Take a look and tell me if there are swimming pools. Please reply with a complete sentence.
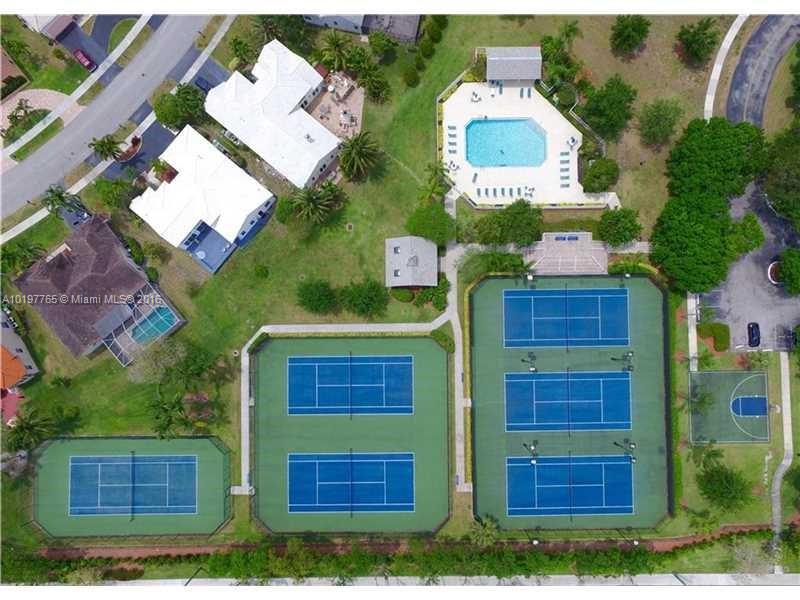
Yes, there's a swimming pool here.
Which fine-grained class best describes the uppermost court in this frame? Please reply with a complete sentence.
The uppermost court appears to be a tennis court.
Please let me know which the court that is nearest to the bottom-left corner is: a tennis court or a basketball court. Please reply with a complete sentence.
What you see as the court that is nearest to the bottom-left corner is a tennis court.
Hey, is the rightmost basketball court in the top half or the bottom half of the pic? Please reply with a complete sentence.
The rightmost basketball court is in the bottom half of the image.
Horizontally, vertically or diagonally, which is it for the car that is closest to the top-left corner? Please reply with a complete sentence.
The car that is closest to the top-left corner runs diagonally in the image.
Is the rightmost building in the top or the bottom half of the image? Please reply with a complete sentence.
The rightmost building is in the top half of the image.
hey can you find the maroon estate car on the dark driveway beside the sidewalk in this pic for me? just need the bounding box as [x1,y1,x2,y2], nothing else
[74,50,99,74]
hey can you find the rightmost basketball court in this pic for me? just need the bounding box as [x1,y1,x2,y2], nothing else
[690,372,770,443]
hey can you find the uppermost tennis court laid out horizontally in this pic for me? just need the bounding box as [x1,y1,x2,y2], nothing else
[472,277,665,360]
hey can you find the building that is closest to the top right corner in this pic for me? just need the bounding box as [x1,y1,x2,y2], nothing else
[484,47,543,86]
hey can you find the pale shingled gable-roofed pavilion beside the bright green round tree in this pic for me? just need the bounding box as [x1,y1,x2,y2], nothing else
[387,235,437,286]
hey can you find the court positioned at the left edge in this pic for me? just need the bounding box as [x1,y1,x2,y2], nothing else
[37,437,230,536]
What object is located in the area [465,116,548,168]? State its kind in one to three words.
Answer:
swimming pool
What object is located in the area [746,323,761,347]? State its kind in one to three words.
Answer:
car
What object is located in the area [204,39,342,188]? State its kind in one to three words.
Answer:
house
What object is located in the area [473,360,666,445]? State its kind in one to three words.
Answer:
tennis court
